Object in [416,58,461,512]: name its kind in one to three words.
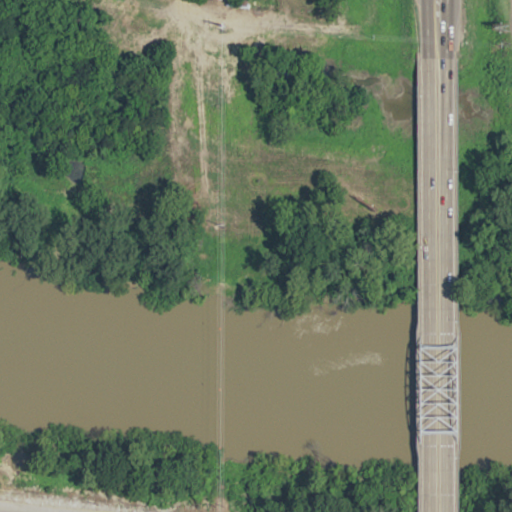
bridge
